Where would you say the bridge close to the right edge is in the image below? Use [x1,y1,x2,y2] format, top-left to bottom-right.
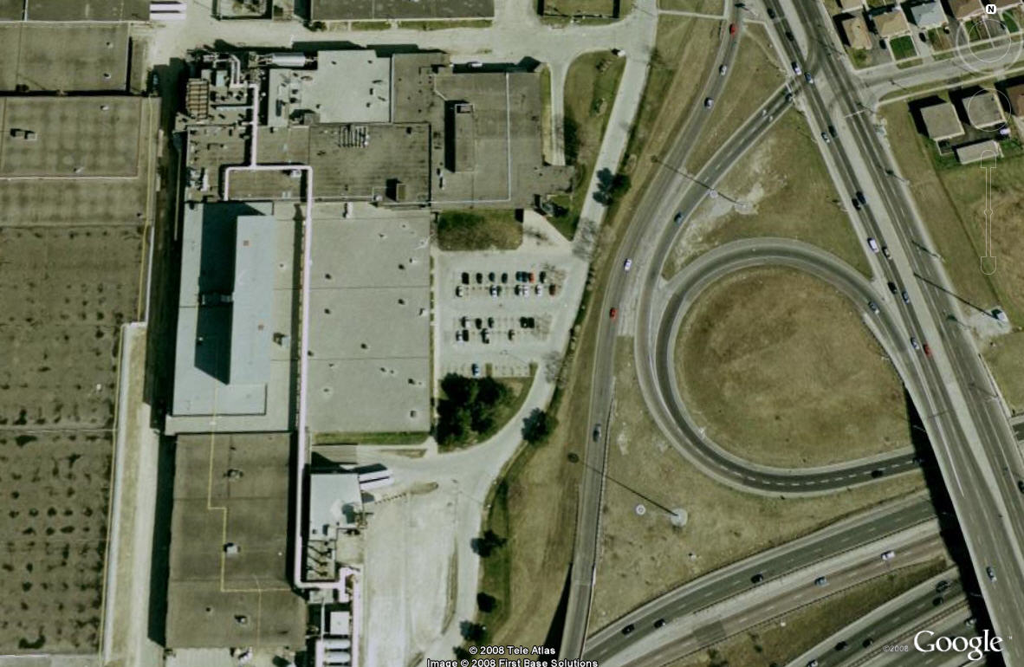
[905,372,1024,667]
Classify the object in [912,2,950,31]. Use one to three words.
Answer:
house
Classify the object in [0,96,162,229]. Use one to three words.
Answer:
building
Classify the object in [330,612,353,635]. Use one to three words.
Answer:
building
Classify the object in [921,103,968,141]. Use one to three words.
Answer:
house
